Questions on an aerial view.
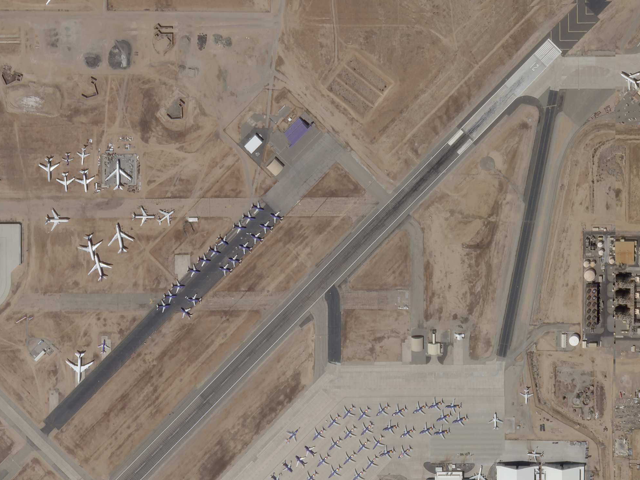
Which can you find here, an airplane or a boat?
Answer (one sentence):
This aerial view contains an airplane.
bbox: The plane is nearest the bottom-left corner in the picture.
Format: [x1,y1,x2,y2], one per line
[66,352,95,383]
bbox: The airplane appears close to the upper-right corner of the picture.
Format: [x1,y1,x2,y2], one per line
[621,71,640,89]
